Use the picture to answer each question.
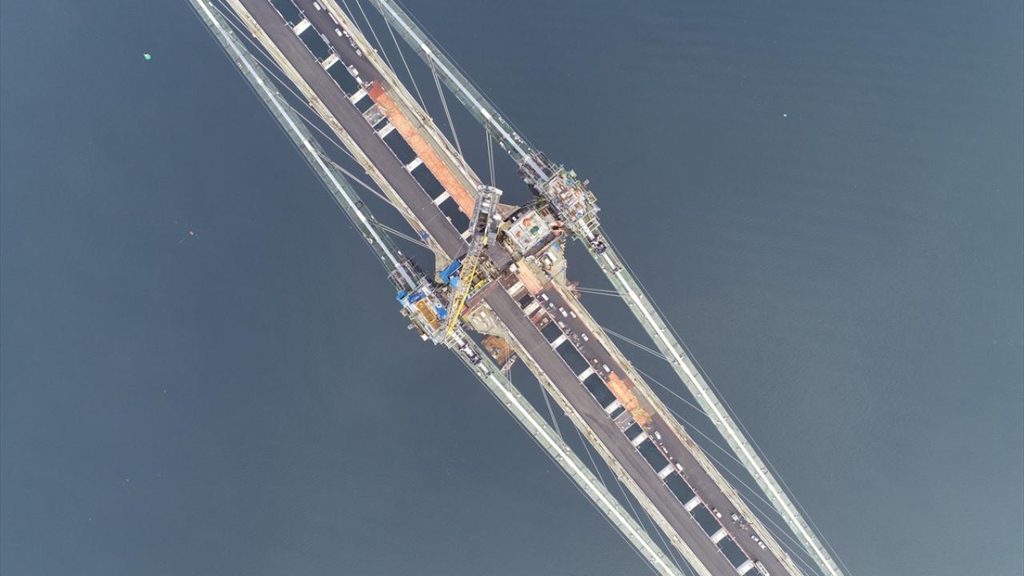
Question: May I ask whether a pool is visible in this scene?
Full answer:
No, there is no pool in the image.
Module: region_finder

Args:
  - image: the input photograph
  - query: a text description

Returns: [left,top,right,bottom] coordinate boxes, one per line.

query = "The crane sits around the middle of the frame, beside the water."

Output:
[447,187,504,336]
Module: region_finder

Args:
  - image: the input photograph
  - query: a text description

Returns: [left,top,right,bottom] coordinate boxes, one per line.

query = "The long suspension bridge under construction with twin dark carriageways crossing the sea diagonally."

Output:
[199,0,840,576]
